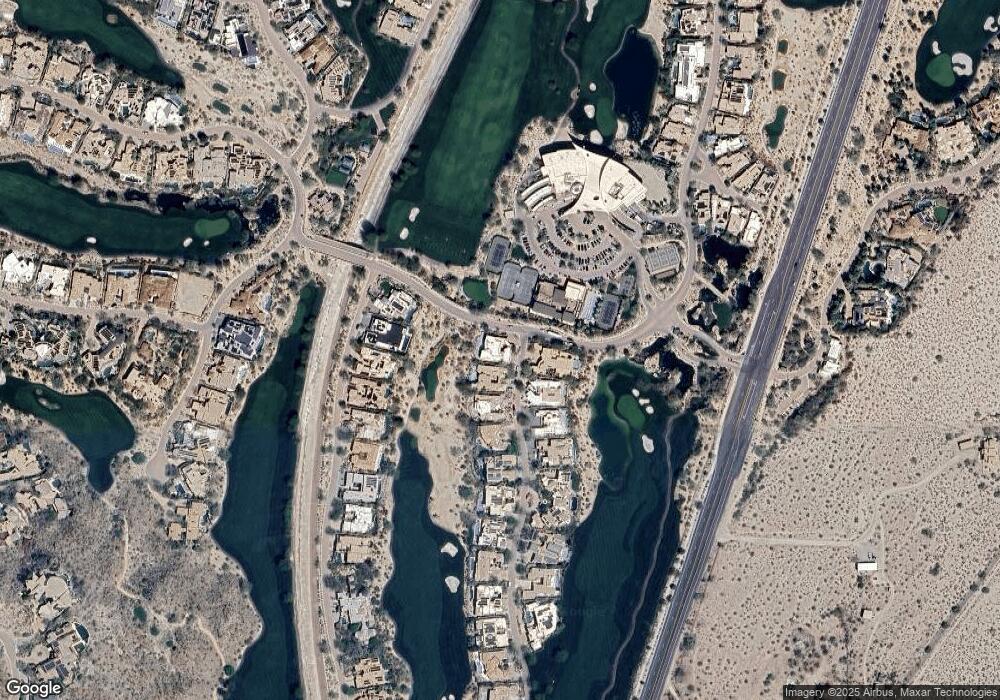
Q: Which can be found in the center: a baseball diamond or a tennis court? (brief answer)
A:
tennis court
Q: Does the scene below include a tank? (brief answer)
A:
No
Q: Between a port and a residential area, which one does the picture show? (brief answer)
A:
residential area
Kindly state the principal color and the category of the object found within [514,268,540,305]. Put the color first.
gray tennis court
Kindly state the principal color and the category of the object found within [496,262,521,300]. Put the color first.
gray tennis court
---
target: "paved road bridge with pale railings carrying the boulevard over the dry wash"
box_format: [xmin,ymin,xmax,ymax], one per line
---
[308,233,380,273]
